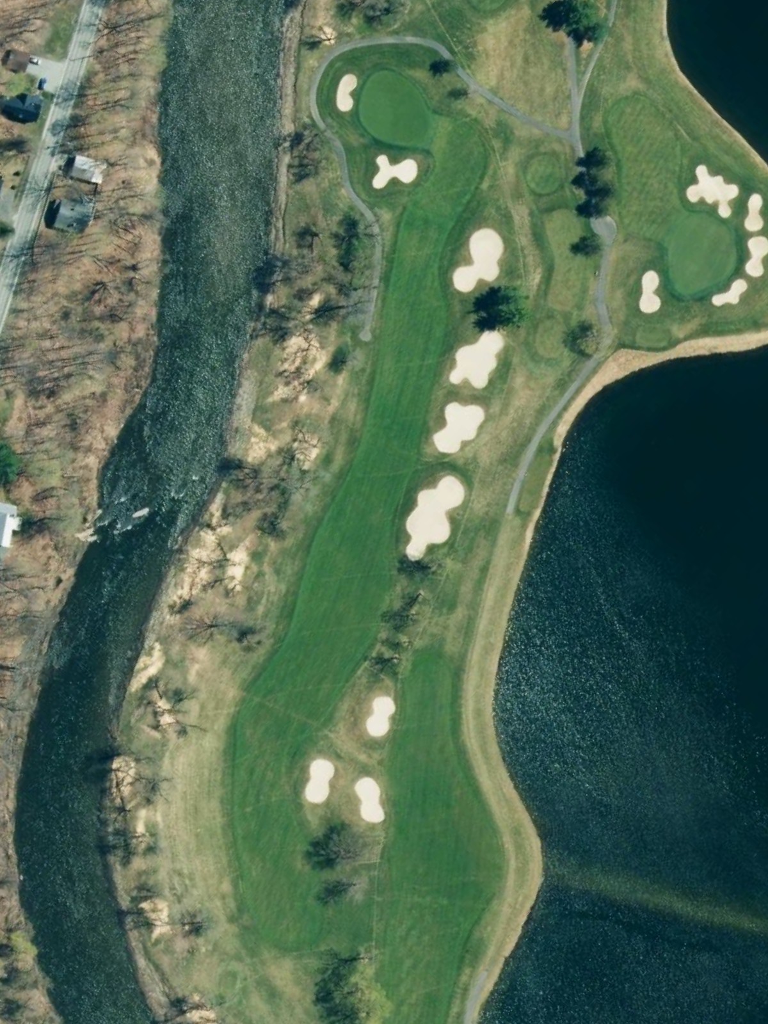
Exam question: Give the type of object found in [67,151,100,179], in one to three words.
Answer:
house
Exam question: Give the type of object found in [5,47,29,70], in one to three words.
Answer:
house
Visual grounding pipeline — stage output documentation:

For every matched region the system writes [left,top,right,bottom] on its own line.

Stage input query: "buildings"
[57,197,91,228]
[1,92,39,120]
[5,47,29,70]
[0,504,21,550]
[67,151,100,179]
